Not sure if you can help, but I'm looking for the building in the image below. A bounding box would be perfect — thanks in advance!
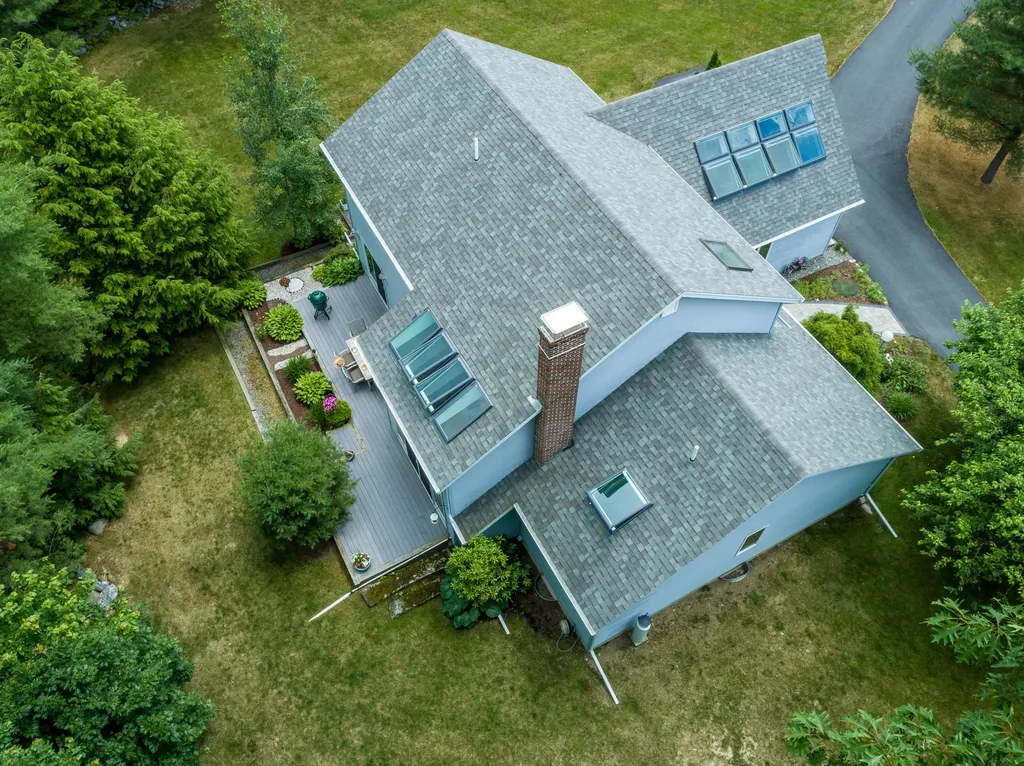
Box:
[319,28,923,650]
